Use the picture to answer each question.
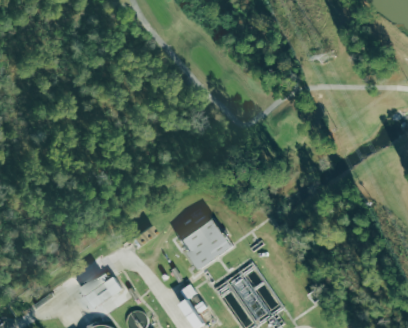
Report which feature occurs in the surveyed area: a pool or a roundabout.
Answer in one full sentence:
I can see a pool in this picture.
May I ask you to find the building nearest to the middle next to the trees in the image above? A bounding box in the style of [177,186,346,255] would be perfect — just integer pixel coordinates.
[170,201,231,268]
